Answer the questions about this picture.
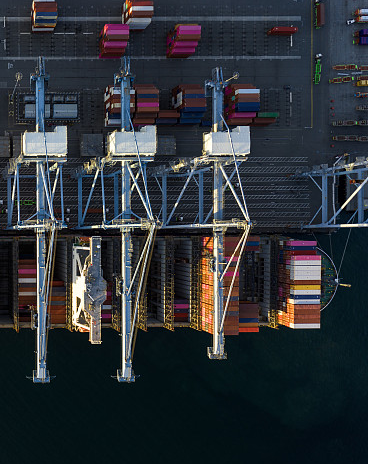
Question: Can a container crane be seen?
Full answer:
Yes, I can see a container crane in this picture.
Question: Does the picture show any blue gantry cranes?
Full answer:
Yes, this view includes a blue gantry crane.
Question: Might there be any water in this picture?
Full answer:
Yes, water can be seen from above here.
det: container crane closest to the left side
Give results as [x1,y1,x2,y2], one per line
[1,55,65,385]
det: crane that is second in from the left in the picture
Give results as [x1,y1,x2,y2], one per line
[69,55,155,385]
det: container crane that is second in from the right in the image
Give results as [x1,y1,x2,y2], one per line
[146,55,265,361]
